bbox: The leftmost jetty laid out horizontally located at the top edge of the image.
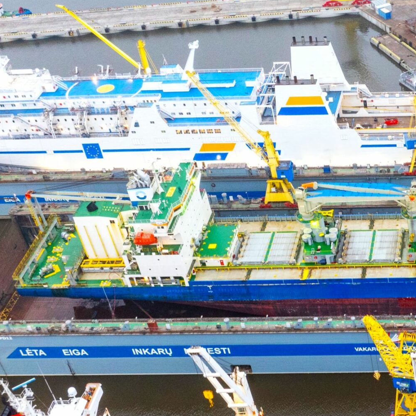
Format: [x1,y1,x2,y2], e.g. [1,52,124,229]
[0,0,358,41]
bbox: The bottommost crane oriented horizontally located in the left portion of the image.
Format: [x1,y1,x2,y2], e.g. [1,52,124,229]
[25,168,135,232]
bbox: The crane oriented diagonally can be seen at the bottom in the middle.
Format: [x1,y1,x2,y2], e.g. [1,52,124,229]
[184,339,264,416]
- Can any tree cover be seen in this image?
No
